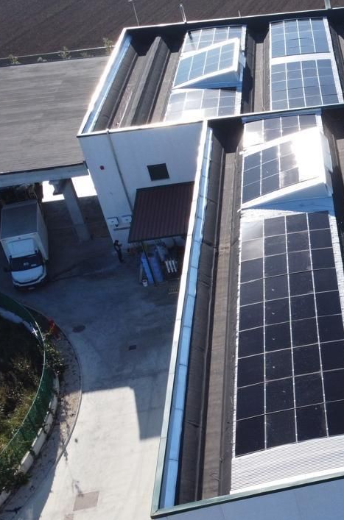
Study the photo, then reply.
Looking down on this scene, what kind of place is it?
industrial area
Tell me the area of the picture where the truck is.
left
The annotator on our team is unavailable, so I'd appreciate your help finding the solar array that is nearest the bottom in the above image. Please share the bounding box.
[231,211,344,459]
